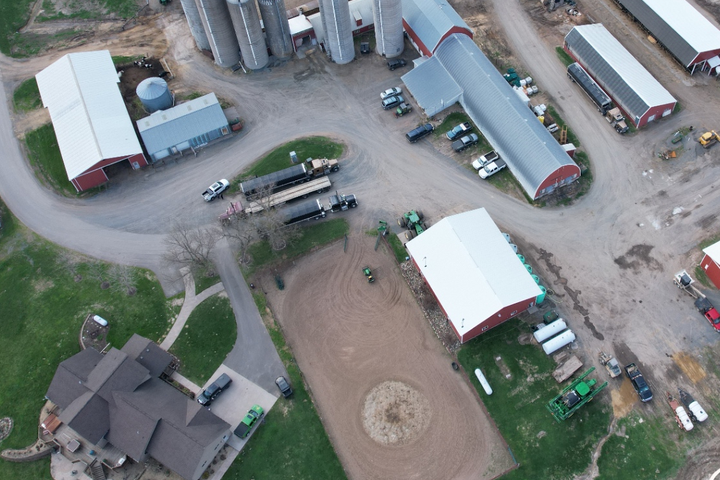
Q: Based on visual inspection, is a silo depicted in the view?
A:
Yes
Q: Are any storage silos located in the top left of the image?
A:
Yes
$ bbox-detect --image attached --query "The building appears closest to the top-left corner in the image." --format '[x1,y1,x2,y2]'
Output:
[36,51,149,190]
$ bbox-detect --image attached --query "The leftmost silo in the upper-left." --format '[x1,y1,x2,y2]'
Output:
[131,77,171,115]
